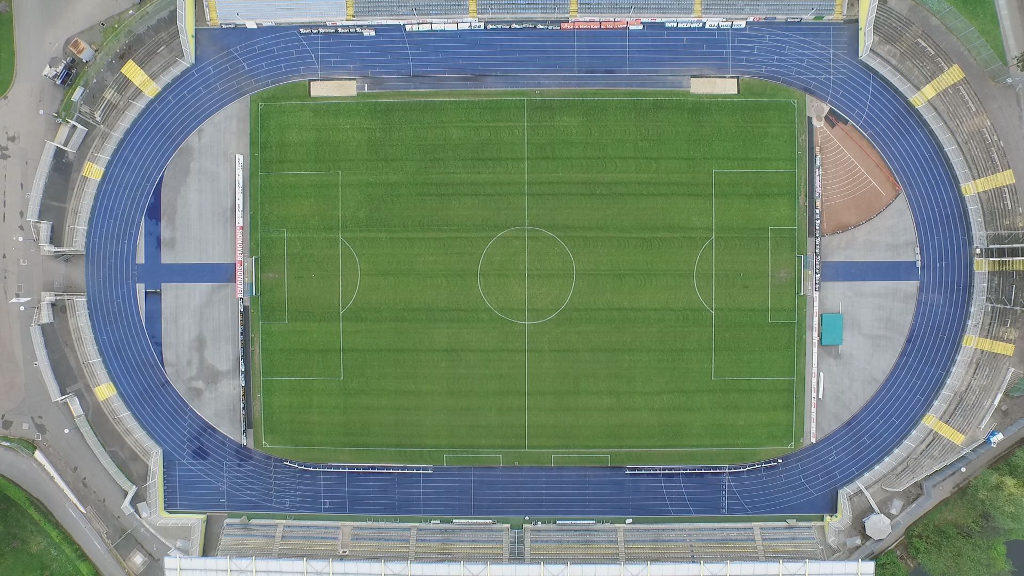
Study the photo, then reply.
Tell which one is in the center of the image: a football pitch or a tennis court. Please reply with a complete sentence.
There is a football pitch in the center of the image.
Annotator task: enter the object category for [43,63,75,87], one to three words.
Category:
truck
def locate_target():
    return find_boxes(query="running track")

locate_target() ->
[85,20,973,516]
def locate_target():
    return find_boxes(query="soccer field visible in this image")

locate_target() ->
[250,74,807,467]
